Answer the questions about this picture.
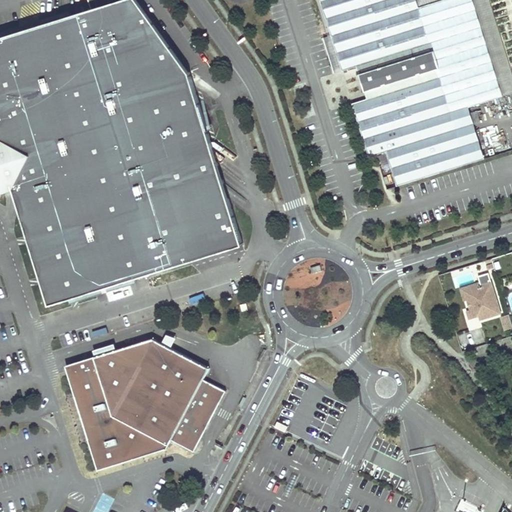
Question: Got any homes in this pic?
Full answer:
Yes, looking at the shot, I can spot a home.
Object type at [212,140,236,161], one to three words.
vehicle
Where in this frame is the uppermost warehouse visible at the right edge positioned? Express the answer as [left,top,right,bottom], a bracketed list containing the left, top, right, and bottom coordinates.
[320,0,502,186]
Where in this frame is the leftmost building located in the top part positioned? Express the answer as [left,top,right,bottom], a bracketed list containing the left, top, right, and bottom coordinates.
[0,0,243,307]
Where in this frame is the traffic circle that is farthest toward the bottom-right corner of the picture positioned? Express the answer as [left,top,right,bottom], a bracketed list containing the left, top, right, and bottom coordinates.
[364,365,408,409]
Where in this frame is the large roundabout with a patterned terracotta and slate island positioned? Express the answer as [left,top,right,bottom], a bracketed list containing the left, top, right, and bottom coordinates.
[263,236,374,348]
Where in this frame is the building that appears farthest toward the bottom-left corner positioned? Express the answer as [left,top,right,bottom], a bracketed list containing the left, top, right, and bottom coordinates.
[64,335,225,470]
